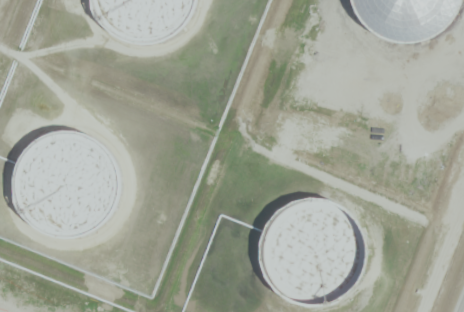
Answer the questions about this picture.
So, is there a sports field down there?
No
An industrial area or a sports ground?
industrial area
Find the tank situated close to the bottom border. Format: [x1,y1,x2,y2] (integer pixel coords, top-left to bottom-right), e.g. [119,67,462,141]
[258,198,367,306]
